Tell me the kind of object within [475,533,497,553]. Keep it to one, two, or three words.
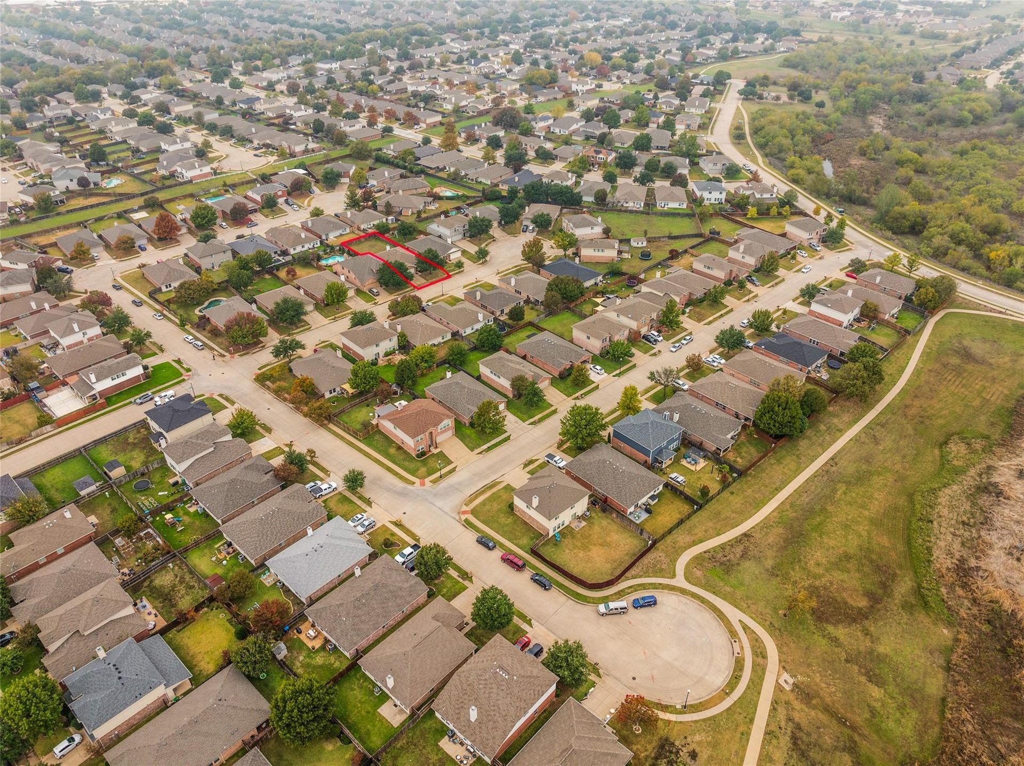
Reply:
car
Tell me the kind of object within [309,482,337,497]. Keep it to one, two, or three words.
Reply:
vehicle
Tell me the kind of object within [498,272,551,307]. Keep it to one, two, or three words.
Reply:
house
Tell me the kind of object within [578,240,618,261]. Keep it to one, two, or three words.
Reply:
house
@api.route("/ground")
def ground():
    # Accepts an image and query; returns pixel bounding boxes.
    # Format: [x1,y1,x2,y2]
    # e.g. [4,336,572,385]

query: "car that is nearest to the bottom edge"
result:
[47,732,87,763]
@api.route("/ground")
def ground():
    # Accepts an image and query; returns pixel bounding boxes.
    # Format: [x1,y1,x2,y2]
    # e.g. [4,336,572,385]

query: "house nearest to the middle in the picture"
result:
[471,350,547,401]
